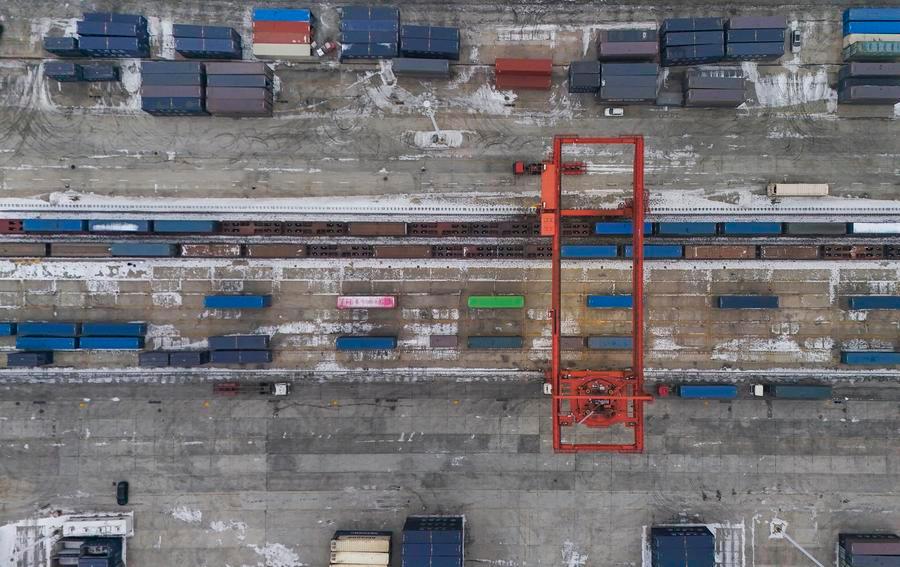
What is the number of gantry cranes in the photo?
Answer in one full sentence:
Just 1 gantry crane appears in this view.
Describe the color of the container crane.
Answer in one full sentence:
The color of the container crane is red.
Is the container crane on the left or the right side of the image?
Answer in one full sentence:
The container crane appears in the right half of the scene.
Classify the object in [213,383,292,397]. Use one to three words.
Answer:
vehicle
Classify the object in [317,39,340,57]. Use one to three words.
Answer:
work vehicle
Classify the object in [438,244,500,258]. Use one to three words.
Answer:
rail car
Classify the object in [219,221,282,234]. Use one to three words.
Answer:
rail car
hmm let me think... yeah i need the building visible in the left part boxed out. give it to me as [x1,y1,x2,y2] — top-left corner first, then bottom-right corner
[63,517,131,536]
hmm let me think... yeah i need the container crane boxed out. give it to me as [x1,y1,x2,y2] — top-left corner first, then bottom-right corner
[528,133,654,455]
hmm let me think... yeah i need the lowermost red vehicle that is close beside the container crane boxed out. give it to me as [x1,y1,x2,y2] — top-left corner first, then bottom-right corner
[656,383,687,398]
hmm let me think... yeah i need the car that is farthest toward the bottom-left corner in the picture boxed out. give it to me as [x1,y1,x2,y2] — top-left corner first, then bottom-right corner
[117,482,129,505]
